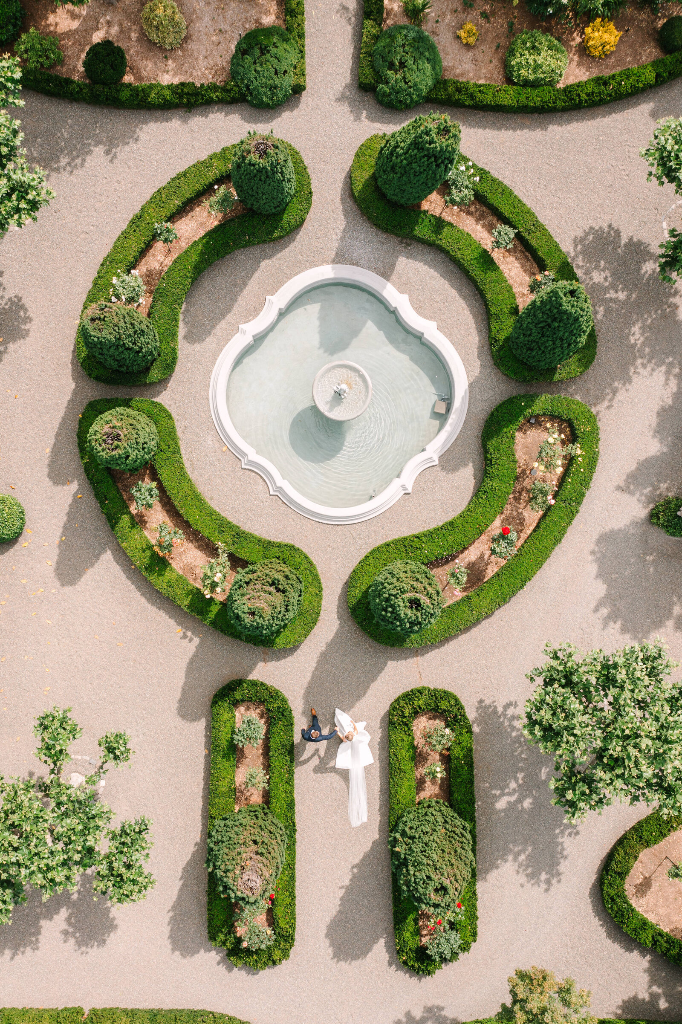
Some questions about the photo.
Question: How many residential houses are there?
zero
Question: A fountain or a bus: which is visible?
fountain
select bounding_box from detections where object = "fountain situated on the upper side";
[210,264,469,524]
